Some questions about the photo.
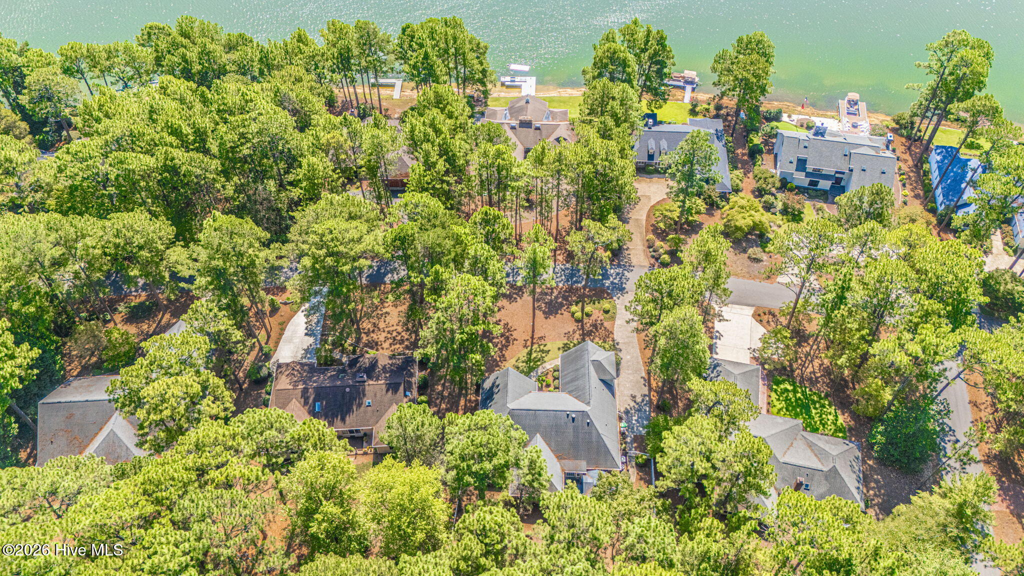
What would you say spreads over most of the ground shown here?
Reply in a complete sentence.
Most of the picture is covered by trees.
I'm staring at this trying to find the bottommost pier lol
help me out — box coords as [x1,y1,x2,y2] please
[838,98,870,136]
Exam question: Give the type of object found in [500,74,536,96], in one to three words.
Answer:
pier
